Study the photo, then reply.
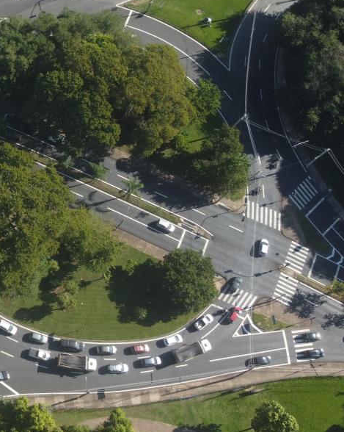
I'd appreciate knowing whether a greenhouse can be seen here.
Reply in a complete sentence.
No, the frame has no greenhouse in it.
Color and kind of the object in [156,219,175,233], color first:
white vehicle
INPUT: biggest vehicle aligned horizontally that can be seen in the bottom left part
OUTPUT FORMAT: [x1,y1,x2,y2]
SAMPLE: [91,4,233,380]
[55,352,97,369]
